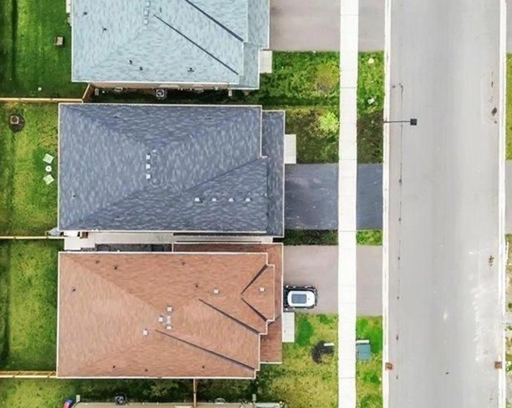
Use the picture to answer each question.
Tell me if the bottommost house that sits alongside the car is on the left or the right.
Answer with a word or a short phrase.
left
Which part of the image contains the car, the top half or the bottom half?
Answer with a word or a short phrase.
bottom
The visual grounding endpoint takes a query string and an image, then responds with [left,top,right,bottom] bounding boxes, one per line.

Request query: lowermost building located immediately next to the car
[58,244,284,378]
